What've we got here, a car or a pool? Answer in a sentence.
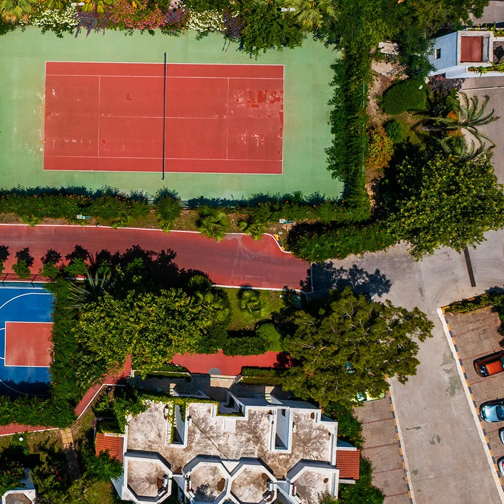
There is a car in the scene.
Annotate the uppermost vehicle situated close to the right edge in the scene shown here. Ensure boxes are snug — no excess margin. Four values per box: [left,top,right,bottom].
[475,353,504,379]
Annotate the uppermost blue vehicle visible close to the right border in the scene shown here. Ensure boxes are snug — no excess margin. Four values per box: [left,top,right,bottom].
[482,403,504,425]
